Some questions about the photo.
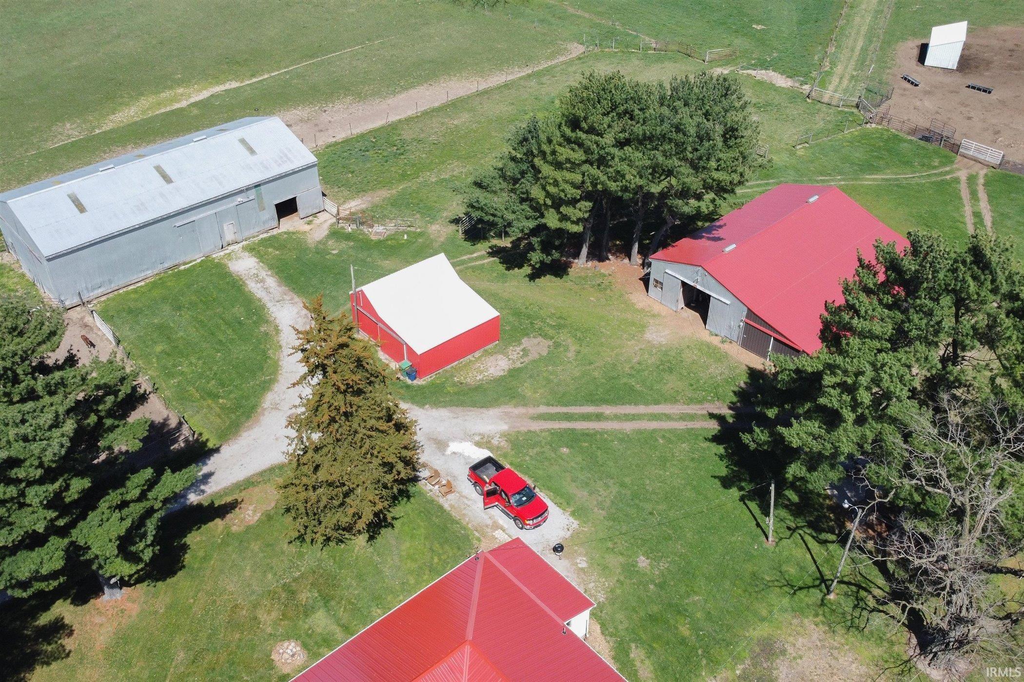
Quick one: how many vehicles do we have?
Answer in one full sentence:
The count comes to 1 vehicle.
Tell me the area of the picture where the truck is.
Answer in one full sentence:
The truck sits in the bottom section of the image.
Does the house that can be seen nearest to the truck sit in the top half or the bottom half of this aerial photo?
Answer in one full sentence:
It is in the bottom half that the house that can be seen nearest to the truck appears.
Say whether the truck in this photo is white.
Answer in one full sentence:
No, the truck is red.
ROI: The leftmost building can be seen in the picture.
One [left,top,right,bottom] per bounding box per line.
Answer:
[0,116,324,309]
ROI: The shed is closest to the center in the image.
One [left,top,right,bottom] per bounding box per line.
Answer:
[349,253,500,379]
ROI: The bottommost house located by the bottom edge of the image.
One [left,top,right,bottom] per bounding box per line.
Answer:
[286,537,626,682]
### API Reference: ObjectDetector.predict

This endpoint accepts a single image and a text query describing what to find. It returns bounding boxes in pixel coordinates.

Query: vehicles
[468,457,555,535]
